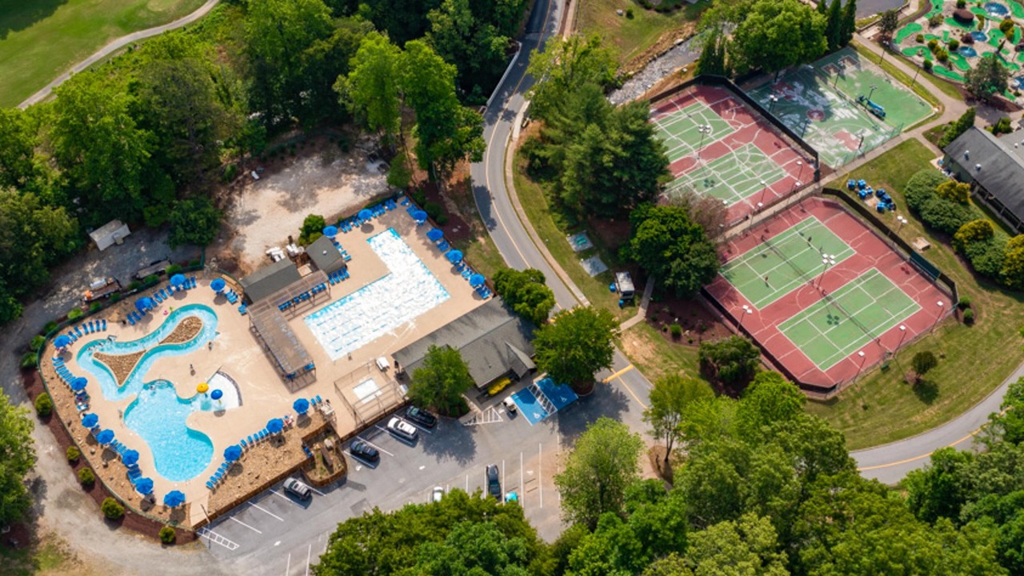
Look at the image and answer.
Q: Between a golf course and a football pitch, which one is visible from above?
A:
golf course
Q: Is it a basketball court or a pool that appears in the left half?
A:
pool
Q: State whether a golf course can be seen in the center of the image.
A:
No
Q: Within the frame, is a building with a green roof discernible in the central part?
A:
No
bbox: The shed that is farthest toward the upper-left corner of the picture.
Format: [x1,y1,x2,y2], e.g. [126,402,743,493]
[89,222,132,258]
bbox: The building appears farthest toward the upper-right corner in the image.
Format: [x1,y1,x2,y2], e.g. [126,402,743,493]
[940,127,1024,237]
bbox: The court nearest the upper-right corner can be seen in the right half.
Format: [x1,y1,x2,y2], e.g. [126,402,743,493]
[819,46,938,131]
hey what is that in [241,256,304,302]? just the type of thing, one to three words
building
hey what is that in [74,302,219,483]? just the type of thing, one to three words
swimming pool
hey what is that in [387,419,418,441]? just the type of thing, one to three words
car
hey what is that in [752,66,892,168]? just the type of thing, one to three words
basketball court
